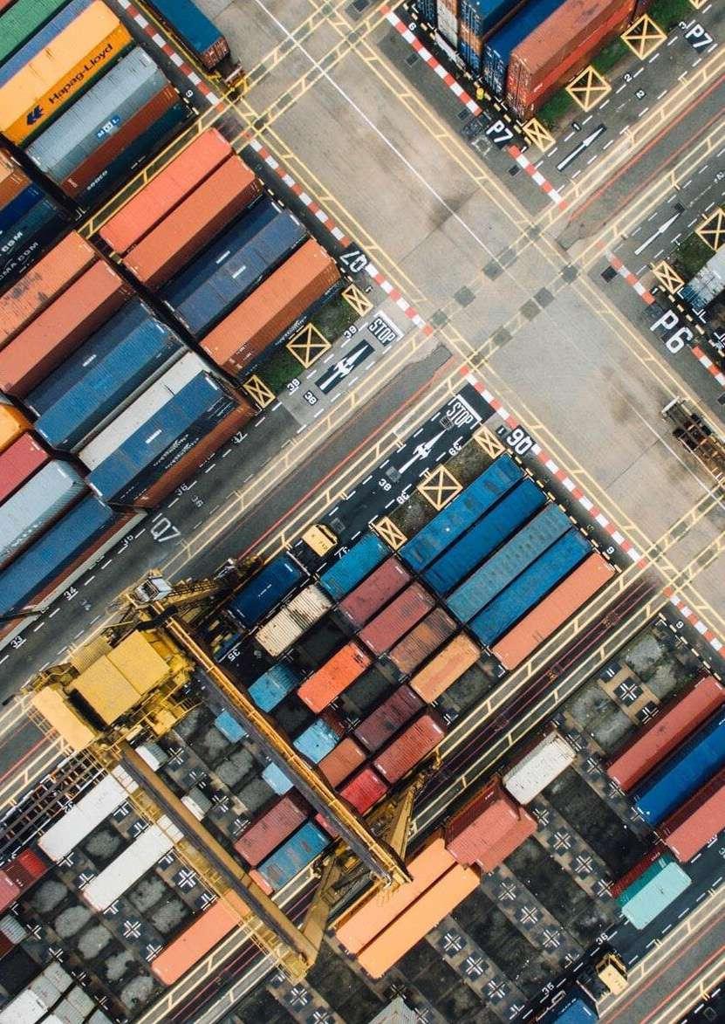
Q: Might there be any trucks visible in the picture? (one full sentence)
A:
Yes, a truck can be made out from above.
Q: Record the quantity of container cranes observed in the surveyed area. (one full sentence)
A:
There is 1 container crane in the image.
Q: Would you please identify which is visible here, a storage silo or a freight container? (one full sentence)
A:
I can see a freight container in this picture.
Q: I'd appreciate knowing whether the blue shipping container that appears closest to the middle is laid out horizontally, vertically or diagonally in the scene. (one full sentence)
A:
From this overhead view, the blue shipping container that appears closest to the middle appears to run diagonally.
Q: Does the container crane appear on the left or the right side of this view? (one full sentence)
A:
It is on the left.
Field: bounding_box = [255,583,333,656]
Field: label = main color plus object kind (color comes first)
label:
white shipping container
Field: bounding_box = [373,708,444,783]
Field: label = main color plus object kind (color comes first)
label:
red shipping container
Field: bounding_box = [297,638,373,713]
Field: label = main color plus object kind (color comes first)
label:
orange shipping container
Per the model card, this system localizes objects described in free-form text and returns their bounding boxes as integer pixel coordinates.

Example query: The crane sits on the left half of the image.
[11,548,434,992]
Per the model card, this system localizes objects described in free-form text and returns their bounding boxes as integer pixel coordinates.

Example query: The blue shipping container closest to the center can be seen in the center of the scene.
[319,529,391,598]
